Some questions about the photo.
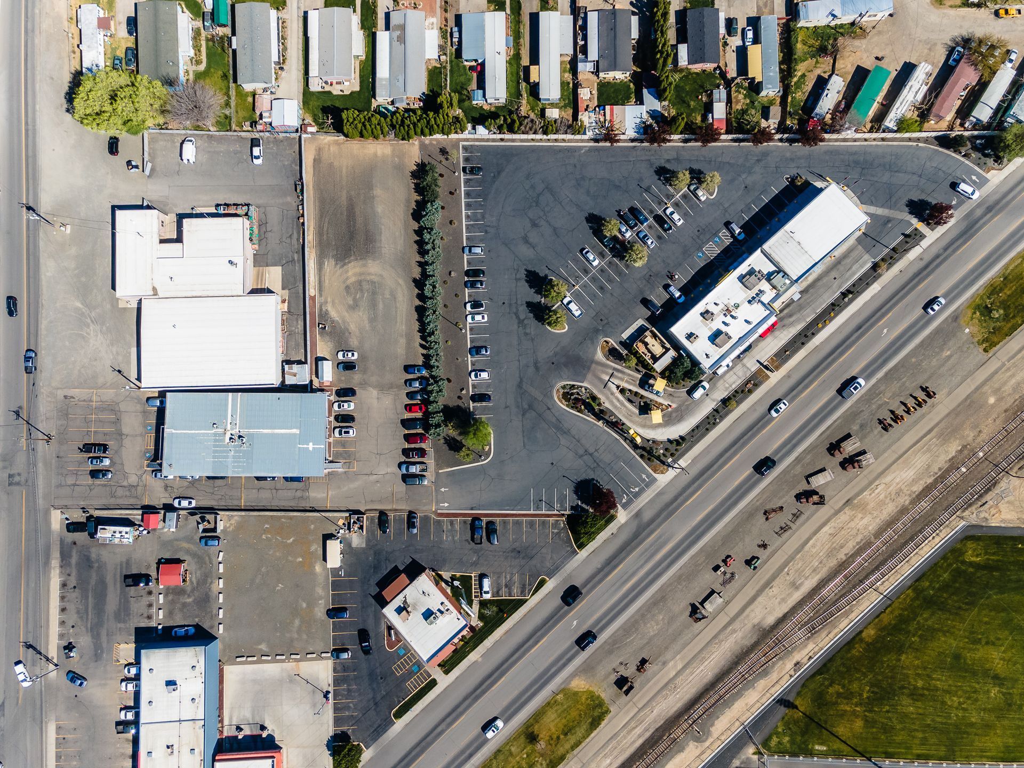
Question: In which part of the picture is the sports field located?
bottom right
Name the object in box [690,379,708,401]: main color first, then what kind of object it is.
white car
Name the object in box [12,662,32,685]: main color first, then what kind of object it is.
white vehicle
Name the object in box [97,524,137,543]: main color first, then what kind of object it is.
white trailer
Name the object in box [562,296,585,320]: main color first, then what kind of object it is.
white truck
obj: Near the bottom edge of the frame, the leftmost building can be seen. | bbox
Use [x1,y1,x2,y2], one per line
[135,637,219,768]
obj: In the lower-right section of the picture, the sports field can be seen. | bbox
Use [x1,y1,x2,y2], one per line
[768,535,1024,761]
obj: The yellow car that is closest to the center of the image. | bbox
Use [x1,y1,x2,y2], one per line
[628,427,641,444]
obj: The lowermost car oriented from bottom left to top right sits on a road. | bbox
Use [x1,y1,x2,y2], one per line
[484,717,503,739]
